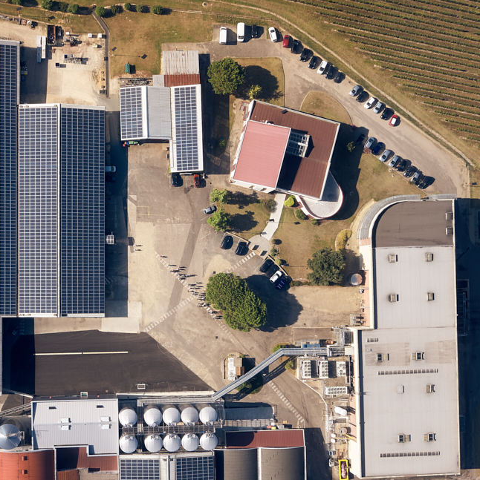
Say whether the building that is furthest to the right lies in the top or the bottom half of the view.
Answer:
bottom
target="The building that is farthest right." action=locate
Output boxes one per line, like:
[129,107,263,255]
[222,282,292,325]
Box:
[345,194,466,480]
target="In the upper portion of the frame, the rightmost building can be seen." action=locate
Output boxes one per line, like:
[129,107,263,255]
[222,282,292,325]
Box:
[226,98,344,220]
